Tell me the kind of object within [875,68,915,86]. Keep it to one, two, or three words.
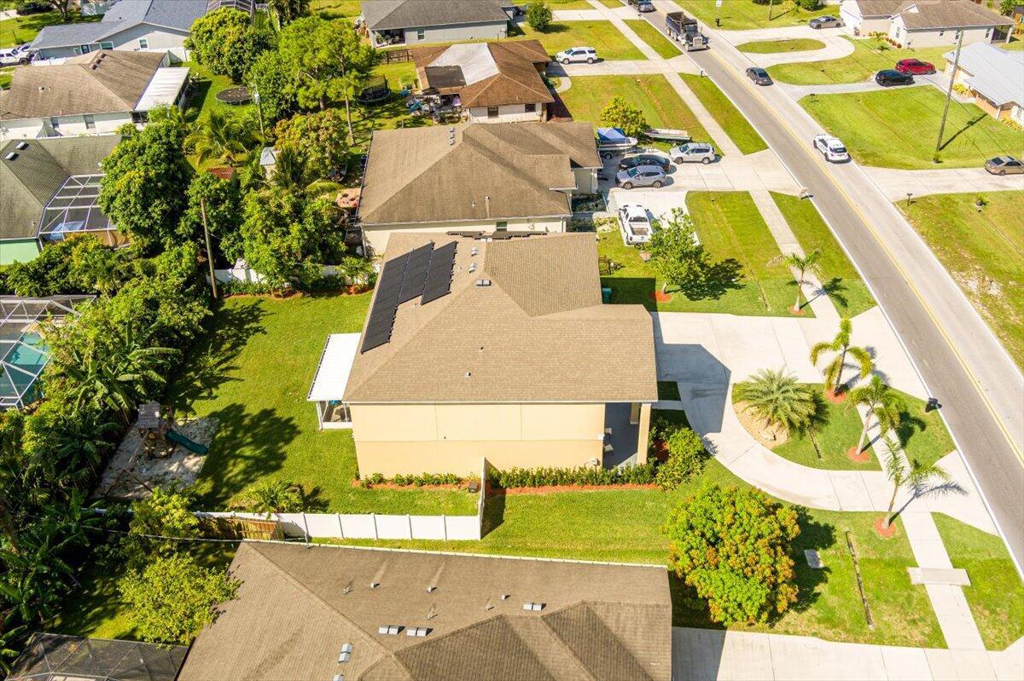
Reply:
car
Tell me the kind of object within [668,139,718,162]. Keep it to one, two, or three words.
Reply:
car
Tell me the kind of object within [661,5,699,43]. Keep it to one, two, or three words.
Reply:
truck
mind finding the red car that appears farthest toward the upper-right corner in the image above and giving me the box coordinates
[896,57,937,74]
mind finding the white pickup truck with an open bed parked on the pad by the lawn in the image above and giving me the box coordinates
[623,211,651,248]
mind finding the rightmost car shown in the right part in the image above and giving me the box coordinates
[980,152,1024,174]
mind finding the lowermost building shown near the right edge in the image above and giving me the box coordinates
[940,38,1024,129]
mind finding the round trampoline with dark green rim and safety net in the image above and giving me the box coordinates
[354,73,391,106]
